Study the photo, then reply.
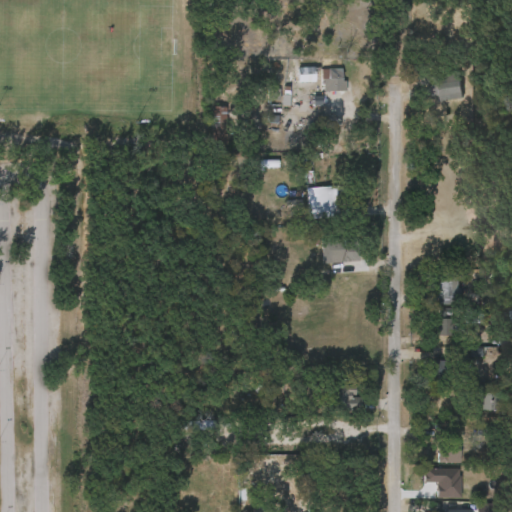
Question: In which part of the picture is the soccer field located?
top left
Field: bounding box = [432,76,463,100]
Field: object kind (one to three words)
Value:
house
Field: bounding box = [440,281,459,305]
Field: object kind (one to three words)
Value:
house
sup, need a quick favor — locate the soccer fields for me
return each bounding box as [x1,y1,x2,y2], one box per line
[0,0,174,111]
